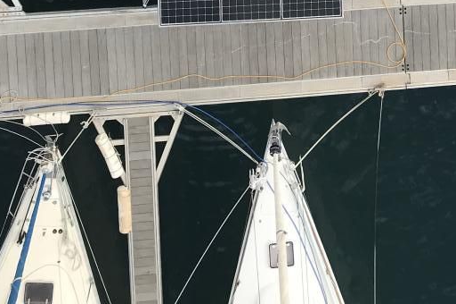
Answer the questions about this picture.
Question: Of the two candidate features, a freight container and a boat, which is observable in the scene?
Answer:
boat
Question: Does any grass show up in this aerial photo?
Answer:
No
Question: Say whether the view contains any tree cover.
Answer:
No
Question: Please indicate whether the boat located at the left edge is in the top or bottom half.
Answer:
bottom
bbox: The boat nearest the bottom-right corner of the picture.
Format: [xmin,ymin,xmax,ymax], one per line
[224,116,348,304]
